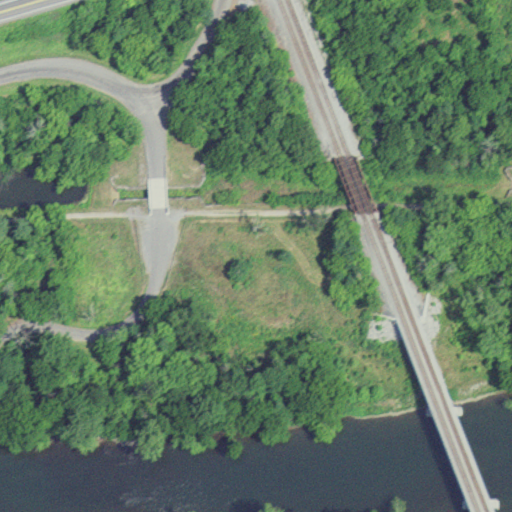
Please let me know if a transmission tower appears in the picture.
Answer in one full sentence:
No, I find no transmission tower anywhere in the image.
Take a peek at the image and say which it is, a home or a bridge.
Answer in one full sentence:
The image shows a bridge.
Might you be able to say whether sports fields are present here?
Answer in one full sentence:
No, the photo shows no sports field.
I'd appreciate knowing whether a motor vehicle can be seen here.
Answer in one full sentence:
No, I can see no motor vehicle in this picture.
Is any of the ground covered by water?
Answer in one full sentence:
Yes, water shows up in the scene.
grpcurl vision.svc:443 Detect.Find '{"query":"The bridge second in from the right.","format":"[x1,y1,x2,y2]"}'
[324,155,386,216]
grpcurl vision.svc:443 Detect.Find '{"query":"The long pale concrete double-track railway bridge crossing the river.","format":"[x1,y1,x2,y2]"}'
[371,292,500,512]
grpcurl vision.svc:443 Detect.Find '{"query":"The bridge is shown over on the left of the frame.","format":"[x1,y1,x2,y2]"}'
[146,177,170,212]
